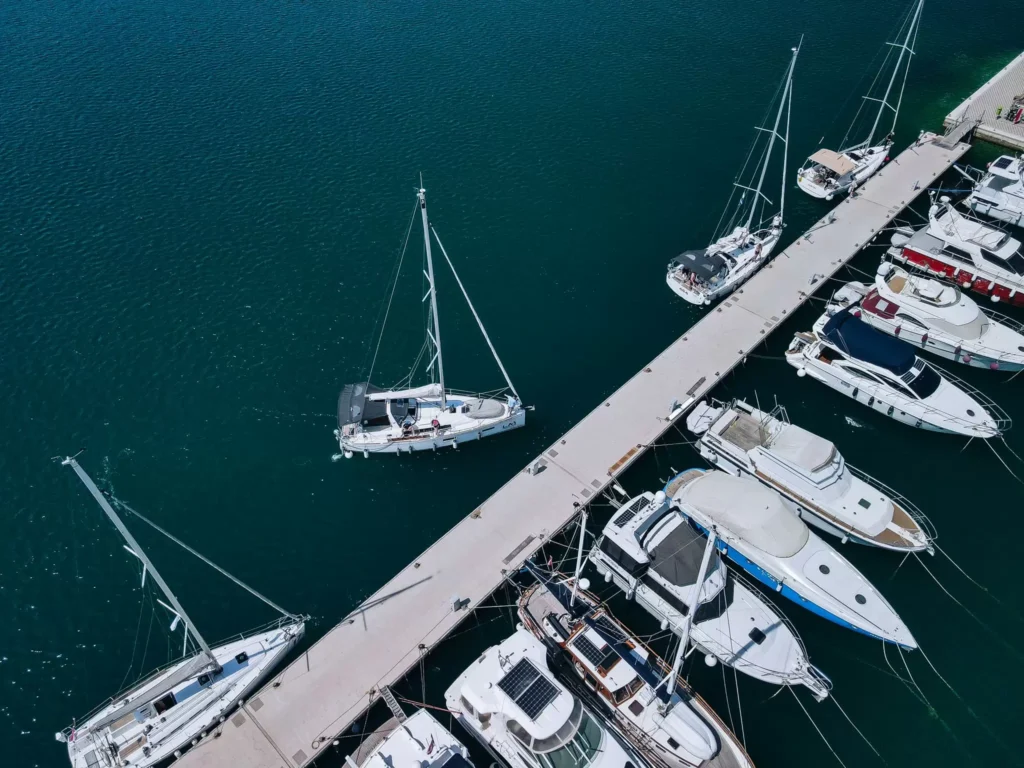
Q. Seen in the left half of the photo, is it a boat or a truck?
boat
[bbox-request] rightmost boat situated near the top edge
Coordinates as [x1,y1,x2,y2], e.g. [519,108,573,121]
[794,0,929,201]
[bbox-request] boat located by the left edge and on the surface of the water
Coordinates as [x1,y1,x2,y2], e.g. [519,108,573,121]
[44,458,313,768]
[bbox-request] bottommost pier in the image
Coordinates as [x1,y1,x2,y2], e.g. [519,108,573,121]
[166,132,970,768]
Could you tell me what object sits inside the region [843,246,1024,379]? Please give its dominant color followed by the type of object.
white boat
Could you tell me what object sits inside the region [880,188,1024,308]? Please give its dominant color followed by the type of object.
white boat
